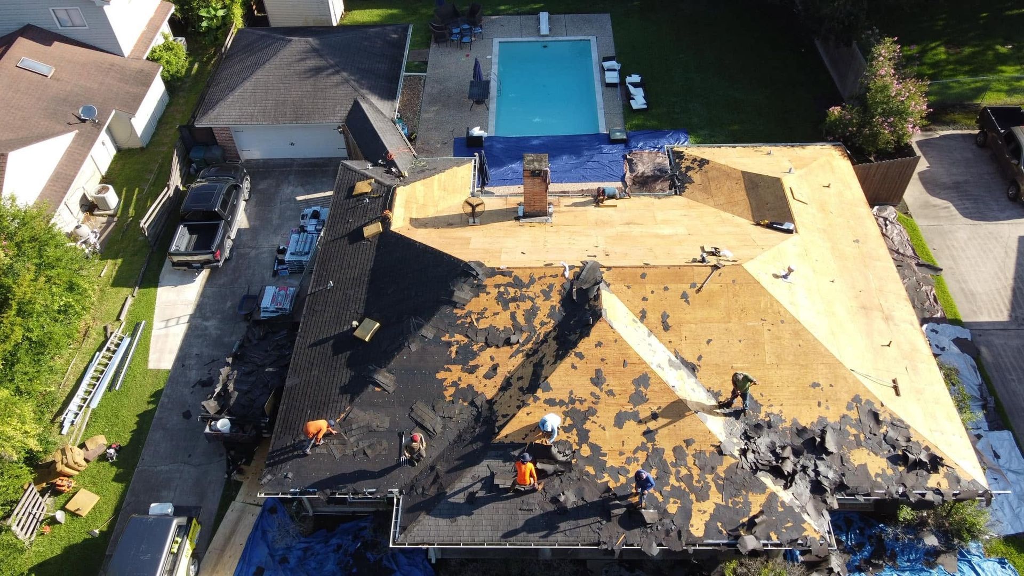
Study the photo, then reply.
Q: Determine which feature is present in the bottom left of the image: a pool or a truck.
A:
truck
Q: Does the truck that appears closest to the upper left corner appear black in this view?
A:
Yes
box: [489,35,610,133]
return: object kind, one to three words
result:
swimming pool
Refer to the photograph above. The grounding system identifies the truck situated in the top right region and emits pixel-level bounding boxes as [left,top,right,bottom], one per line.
[976,106,1024,186]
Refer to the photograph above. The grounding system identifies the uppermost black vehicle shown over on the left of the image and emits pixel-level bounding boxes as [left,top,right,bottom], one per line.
[165,158,249,273]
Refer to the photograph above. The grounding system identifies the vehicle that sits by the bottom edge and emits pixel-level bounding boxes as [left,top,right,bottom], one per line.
[84,510,202,576]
